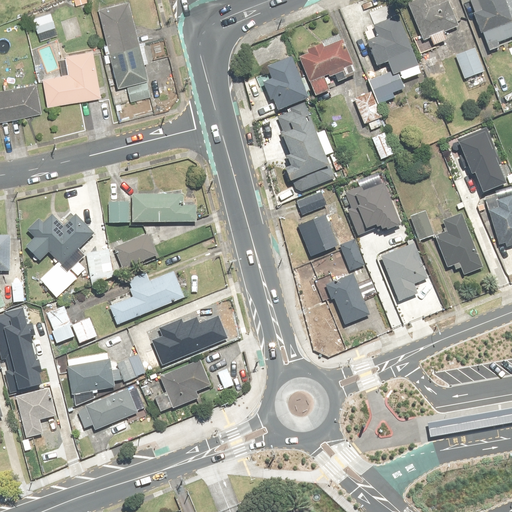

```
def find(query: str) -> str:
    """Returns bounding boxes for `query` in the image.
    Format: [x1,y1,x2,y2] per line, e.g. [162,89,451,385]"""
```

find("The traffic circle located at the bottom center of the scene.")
[274,377,329,432]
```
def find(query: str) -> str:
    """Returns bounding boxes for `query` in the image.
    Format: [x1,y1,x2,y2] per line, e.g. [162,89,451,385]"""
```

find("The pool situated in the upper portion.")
[38,44,60,74]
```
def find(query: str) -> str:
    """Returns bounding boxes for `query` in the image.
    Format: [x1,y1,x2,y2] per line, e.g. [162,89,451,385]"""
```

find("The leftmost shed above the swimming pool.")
[33,13,58,41]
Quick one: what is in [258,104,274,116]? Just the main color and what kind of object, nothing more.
white vehicle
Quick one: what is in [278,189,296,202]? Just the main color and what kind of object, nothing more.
white vehicle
